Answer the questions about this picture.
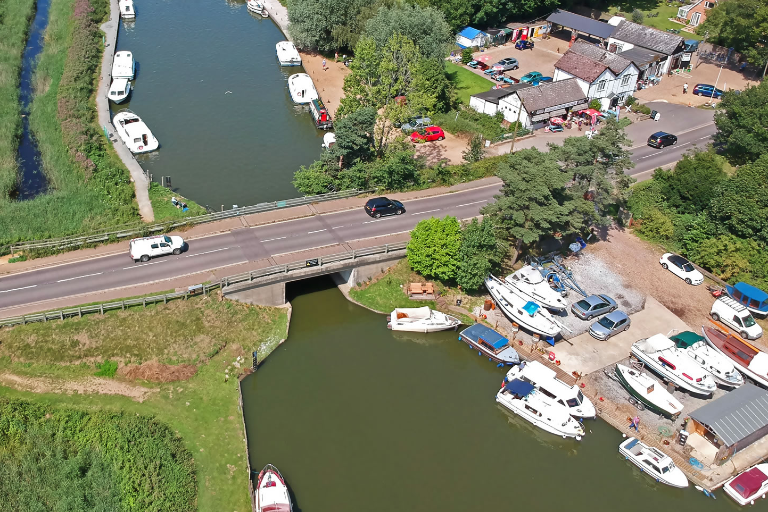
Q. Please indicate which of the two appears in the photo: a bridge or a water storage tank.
bridge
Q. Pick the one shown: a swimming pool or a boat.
boat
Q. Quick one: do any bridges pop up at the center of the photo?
Yes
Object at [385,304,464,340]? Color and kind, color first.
white boat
